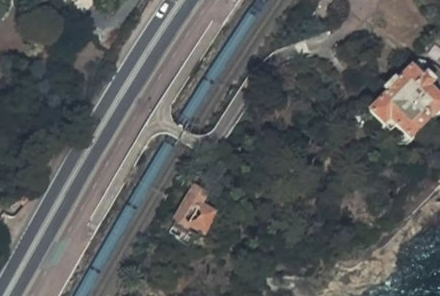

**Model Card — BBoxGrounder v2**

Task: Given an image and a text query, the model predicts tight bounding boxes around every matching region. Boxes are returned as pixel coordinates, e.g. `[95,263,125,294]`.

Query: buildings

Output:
[370,62,440,147]
[169,184,217,242]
